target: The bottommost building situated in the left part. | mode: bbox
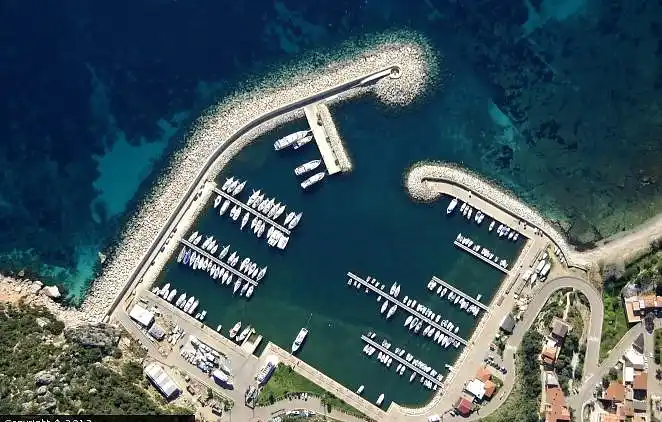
[145,363,180,397]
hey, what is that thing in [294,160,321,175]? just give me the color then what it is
white boat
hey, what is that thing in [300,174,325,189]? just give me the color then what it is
white boat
